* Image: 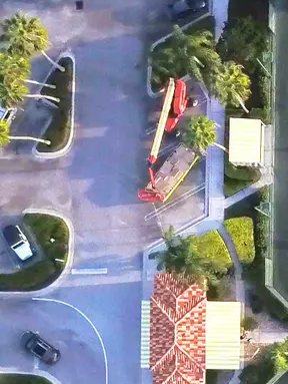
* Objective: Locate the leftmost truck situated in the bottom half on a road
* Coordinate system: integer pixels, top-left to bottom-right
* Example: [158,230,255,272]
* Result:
[0,221,38,266]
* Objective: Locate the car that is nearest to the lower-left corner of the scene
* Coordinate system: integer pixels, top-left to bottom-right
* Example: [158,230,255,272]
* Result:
[21,330,64,364]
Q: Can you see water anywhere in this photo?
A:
No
